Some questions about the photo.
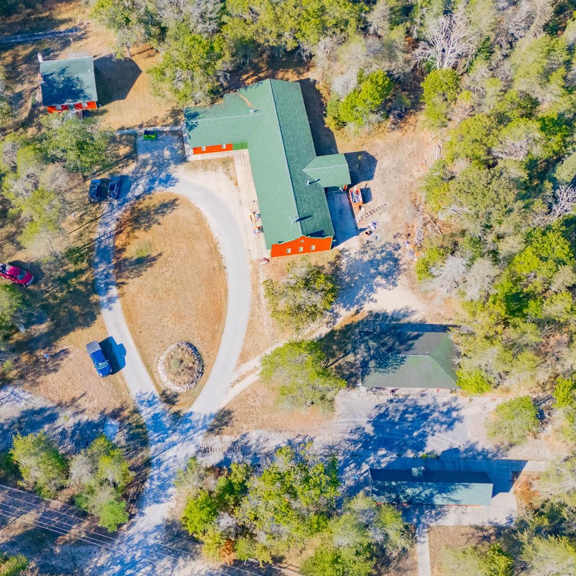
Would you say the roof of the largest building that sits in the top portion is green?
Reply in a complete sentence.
Yes, the roof of the largest building that sits in the top portion appears green.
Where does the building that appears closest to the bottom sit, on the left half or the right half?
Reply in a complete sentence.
It is on the right.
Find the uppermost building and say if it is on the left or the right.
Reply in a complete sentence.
You can find the uppermost building on the left side of the picture.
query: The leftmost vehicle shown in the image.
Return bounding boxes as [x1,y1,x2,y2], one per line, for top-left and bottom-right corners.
[0,261,37,288]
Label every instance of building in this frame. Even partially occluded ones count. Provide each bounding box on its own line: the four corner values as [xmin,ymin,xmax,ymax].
[184,80,351,257]
[369,468,493,507]
[37,50,99,121]
[358,331,460,390]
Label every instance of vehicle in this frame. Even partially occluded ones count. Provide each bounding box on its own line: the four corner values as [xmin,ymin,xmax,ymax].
[87,178,105,207]
[84,339,113,381]
[0,261,37,288]
[105,174,123,204]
